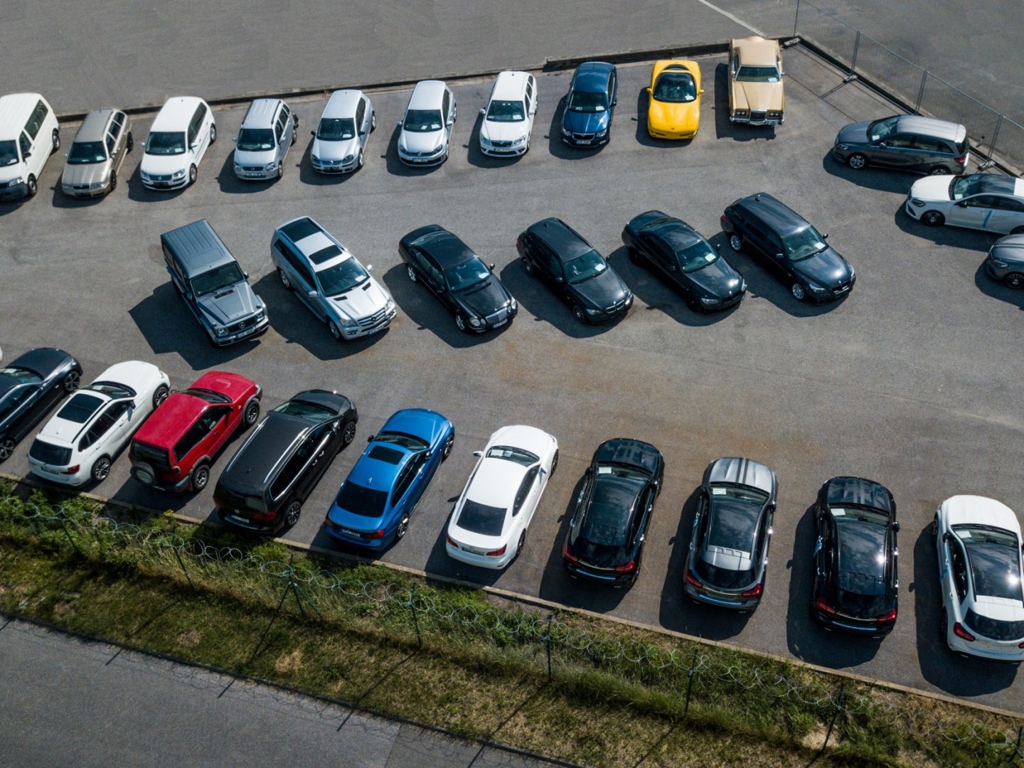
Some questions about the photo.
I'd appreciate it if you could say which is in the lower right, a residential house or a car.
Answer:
car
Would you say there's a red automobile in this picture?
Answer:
Yes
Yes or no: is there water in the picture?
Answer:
No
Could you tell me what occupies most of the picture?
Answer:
paved ground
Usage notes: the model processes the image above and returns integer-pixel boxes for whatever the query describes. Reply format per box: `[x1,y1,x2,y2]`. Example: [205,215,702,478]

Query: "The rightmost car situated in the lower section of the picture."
[936,498,1024,660]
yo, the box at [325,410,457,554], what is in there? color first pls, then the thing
blue car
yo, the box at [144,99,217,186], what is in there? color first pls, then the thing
white car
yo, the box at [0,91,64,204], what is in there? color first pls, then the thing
white van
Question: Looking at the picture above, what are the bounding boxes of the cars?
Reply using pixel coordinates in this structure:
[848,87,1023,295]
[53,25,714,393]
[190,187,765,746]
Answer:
[561,62,619,146]
[60,97,137,197]
[903,173,1024,236]
[398,79,458,164]
[311,89,377,174]
[446,424,563,571]
[512,216,632,326]
[127,372,270,500]
[0,345,85,462]
[562,438,659,584]
[233,99,301,182]
[811,479,903,635]
[717,191,853,303]
[325,410,457,554]
[645,63,707,139]
[617,209,747,317]
[267,217,395,344]
[480,68,540,156]
[685,459,780,610]
[834,116,964,178]
[983,236,1024,290]
[158,218,275,354]
[725,36,789,126]
[396,225,517,335]
[25,362,172,491]
[210,389,361,541]
[144,99,217,186]
[936,498,1024,660]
